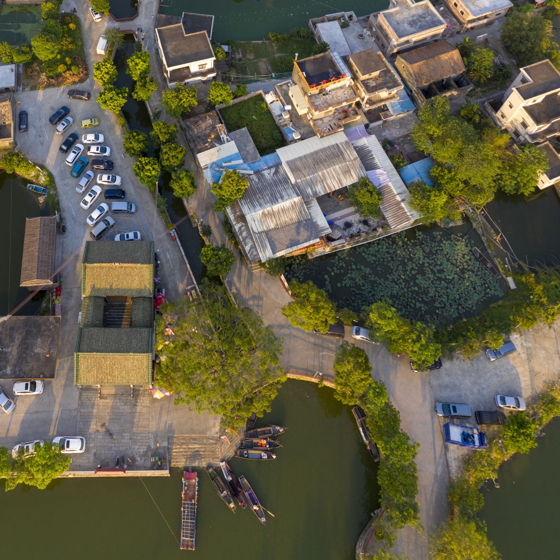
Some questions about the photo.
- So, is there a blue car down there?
Yes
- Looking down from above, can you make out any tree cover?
Yes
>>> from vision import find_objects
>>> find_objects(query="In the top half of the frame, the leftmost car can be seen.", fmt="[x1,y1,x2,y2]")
[16,112,29,133]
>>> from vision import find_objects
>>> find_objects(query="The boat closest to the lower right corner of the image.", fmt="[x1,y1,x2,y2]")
[351,408,378,462]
